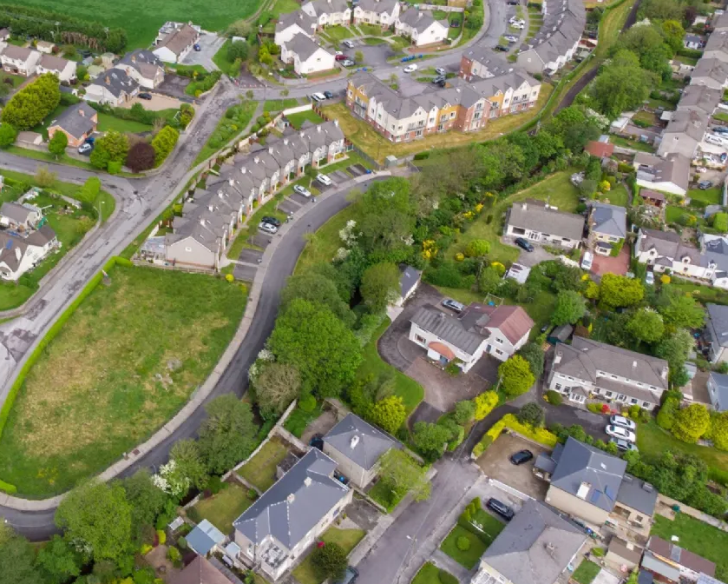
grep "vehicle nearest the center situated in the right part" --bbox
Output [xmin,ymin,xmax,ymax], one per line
[443,296,463,312]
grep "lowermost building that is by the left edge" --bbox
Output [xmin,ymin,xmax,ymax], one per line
[0,221,58,287]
